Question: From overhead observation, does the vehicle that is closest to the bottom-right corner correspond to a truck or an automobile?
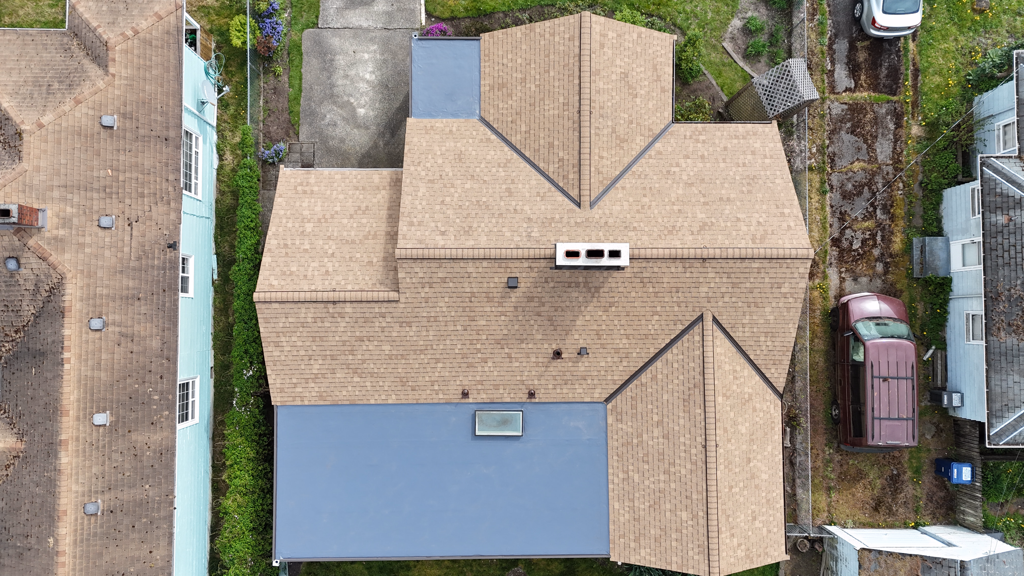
automobile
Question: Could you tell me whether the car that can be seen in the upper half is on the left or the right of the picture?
right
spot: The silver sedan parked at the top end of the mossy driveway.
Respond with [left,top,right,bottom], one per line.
[853,0,927,40]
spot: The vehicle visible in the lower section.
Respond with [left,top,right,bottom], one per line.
[830,292,920,454]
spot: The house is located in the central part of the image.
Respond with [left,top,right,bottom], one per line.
[250,9,817,576]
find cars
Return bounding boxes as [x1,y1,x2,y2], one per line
[830,292,920,454]
[853,0,927,40]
